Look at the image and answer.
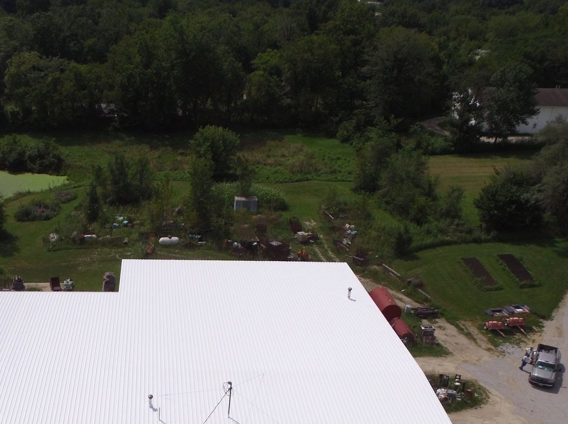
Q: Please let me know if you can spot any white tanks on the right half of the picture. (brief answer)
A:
No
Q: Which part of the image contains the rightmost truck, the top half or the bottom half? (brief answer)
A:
bottom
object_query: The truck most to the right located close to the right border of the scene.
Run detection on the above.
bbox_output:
[523,340,568,384]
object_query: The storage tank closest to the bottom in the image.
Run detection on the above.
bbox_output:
[389,311,419,346]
